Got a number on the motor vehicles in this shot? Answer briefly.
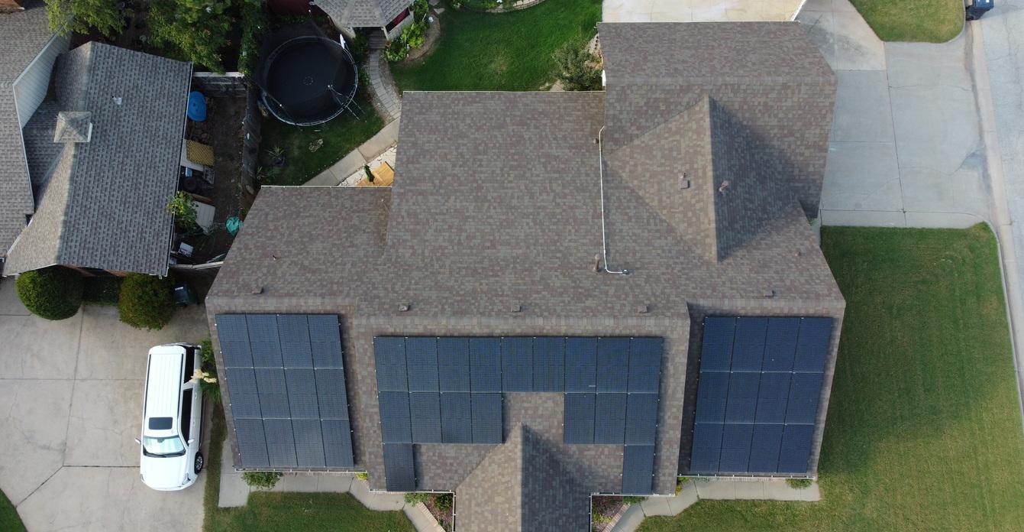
one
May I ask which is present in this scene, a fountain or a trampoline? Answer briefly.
trampoline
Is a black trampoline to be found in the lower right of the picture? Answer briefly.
No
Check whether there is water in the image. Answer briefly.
No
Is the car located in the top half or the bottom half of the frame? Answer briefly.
bottom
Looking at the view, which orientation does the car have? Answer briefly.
from top to bottom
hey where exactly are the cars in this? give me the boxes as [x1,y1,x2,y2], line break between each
[135,341,210,493]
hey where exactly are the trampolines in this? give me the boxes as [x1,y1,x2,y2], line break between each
[251,18,366,131]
